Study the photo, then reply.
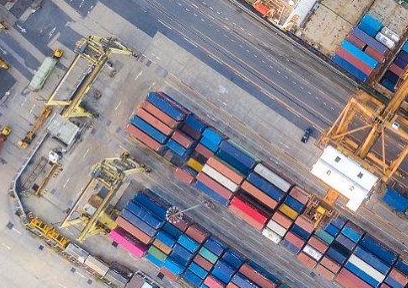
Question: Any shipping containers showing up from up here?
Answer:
Yes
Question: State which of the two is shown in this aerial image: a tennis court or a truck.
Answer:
truck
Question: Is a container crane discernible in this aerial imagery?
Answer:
Yes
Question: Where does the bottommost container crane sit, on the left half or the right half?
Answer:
left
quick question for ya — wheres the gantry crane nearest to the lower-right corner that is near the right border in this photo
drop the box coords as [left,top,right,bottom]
[300,60,408,231]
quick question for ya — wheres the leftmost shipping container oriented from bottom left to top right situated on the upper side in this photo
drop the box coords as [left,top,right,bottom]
[30,53,62,89]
